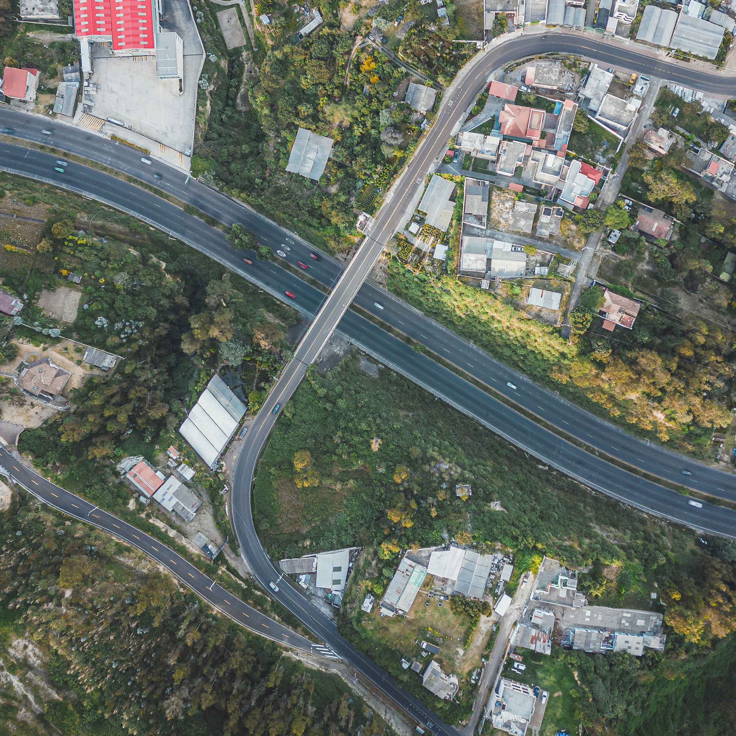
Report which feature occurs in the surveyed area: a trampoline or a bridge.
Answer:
bridge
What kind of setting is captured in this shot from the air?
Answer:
residential area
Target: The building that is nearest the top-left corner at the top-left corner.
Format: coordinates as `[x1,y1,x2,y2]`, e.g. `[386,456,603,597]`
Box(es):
[20,0,61,19]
